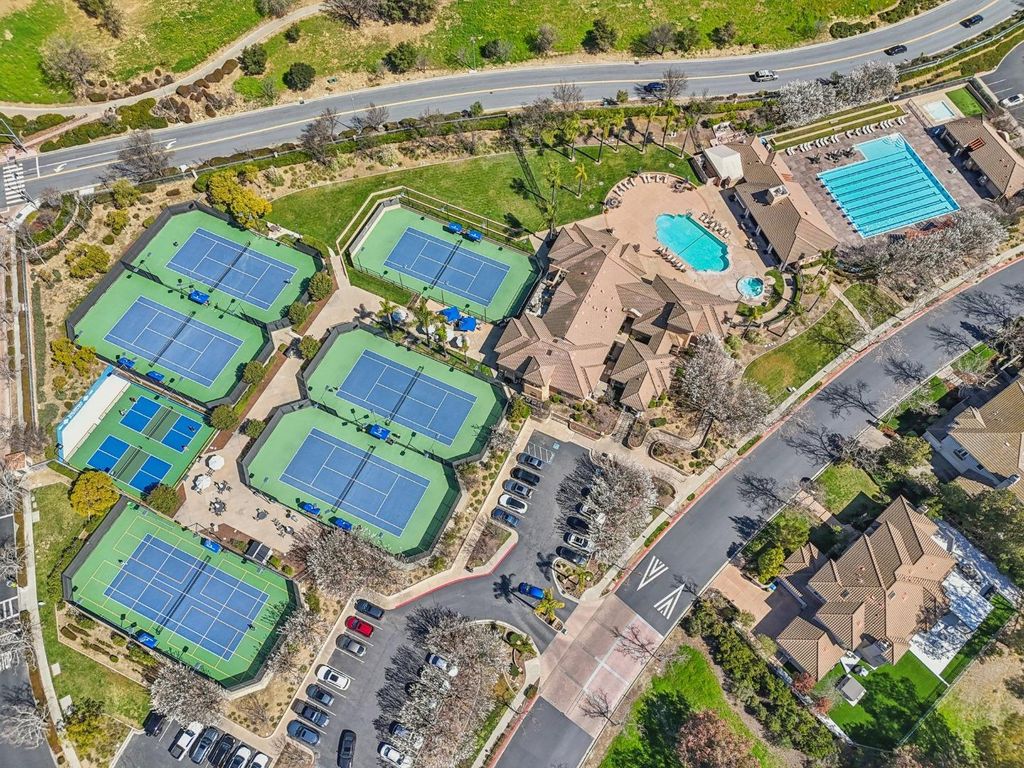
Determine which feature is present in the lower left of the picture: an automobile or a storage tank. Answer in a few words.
automobile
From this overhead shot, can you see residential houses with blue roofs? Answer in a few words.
No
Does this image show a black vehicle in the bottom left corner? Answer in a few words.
Yes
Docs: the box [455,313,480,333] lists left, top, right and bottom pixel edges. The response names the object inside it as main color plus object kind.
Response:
blue umbrella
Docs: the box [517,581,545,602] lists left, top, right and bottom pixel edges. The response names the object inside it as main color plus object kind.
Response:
blue car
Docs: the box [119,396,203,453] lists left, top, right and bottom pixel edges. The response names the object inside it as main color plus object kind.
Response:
blue sports court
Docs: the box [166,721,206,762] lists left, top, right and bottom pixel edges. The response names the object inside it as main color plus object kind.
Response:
white truck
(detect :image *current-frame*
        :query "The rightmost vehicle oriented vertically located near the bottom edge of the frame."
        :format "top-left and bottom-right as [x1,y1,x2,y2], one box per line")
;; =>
[339,731,356,767]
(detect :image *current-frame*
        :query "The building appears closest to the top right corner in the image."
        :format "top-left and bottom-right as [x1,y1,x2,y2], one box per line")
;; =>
[941,105,1024,198]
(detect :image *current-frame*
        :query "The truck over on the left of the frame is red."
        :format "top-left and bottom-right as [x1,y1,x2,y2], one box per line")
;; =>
[341,614,377,639]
